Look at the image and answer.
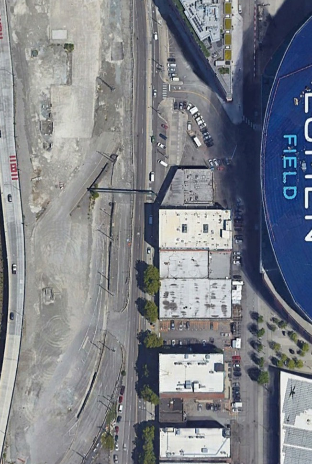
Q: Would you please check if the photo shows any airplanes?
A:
No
